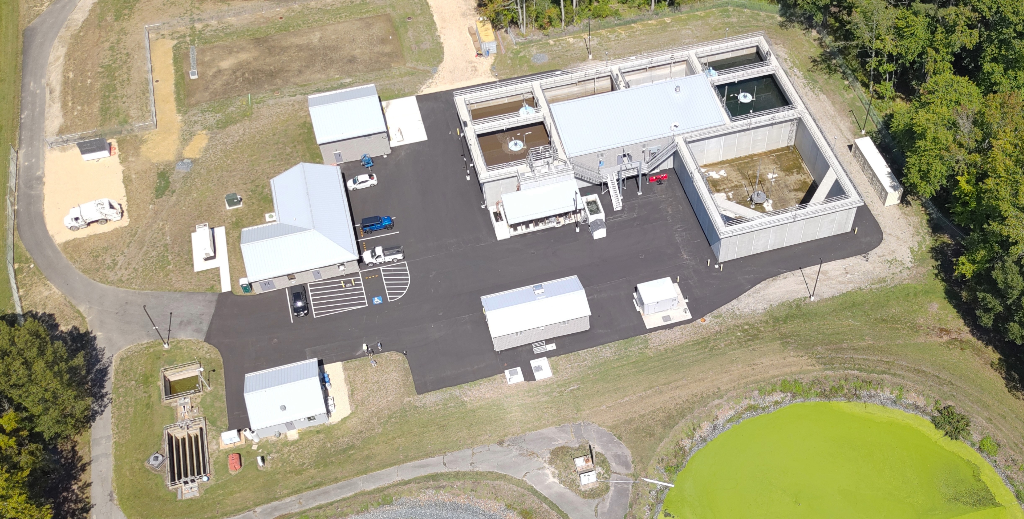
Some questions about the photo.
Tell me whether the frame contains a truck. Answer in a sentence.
Yes, there is a truck in the image.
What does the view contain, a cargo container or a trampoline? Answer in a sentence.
Looking from above, you can make out a cargo container.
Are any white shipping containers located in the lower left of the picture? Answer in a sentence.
No, I see no white shipping container in the lower left of the picture.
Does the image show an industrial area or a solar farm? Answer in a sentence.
The picture captures an industrial area.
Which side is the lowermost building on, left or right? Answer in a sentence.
It is on the left.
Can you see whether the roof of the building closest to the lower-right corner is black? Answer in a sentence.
No, the roof of the building closest to the lower-right corner is actually white.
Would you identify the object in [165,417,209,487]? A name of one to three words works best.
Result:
storage tank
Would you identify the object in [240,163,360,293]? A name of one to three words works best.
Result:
building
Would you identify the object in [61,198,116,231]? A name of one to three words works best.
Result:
truck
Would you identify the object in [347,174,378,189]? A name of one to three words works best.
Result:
car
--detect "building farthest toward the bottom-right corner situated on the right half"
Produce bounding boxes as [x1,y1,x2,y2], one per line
[637,276,678,315]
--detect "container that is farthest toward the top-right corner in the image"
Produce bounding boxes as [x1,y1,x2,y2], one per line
[853,136,905,205]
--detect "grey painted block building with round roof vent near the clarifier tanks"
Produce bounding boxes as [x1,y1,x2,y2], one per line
[243,357,328,438]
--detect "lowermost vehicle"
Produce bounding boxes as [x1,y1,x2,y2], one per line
[289,281,308,315]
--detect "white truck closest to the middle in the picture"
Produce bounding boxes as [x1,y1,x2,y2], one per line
[363,243,404,266]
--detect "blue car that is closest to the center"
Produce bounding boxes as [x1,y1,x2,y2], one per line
[362,214,394,233]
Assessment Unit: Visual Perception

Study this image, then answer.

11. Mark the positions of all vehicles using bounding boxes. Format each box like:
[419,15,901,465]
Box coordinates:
[289,281,308,315]
[363,243,404,266]
[362,214,394,233]
[347,174,378,189]
[61,198,116,231]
